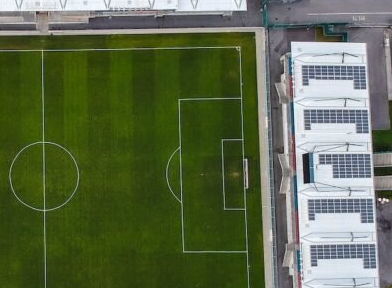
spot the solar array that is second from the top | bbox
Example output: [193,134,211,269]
[305,110,369,133]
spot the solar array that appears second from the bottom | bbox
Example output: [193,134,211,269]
[309,199,374,222]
